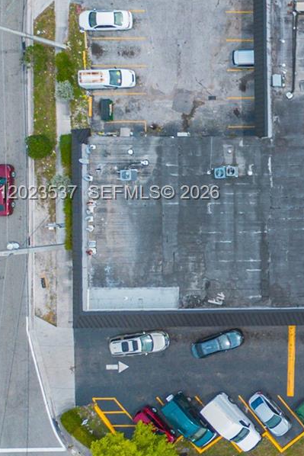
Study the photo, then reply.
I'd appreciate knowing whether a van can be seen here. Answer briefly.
Yes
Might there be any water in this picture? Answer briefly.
No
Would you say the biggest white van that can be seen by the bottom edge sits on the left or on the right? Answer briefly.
right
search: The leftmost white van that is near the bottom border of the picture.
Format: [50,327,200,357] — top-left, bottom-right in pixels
[197,393,261,452]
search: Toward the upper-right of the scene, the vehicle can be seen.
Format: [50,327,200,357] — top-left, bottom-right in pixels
[230,48,255,69]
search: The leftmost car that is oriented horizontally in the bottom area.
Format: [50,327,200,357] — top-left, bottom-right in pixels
[107,328,173,357]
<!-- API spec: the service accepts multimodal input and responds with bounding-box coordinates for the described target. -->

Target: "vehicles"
[230,48,255,69]
[80,7,136,32]
[107,328,173,357]
[289,395,304,424]
[197,393,261,452]
[75,66,138,91]
[156,392,218,450]
[246,389,296,438]
[0,165,18,215]
[190,327,247,361]
[130,401,182,450]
